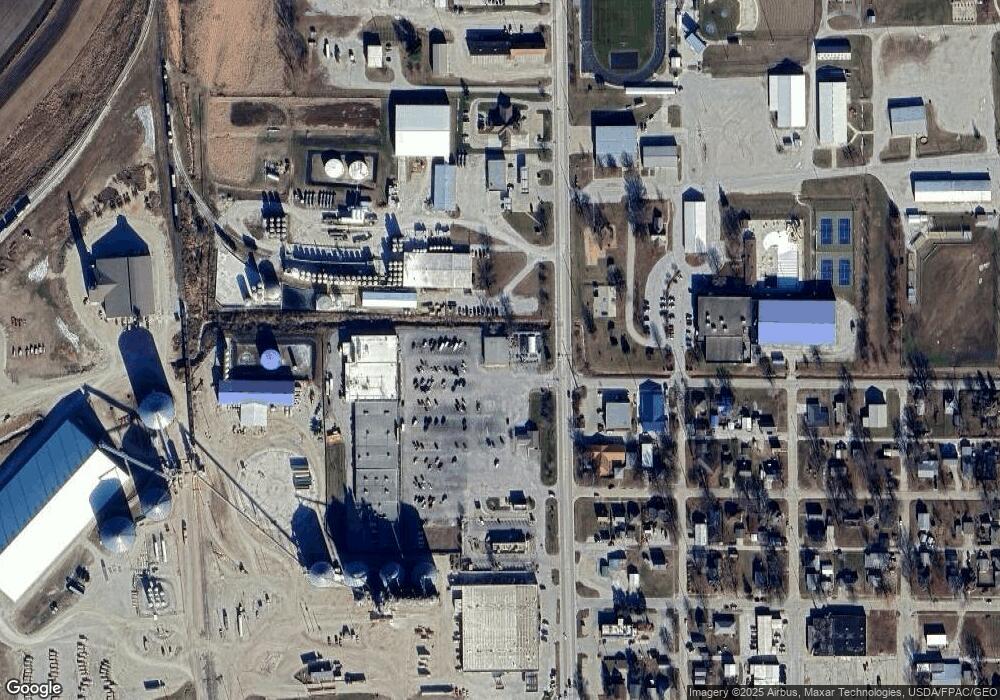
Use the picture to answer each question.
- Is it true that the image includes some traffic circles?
No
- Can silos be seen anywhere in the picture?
Yes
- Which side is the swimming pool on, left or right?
right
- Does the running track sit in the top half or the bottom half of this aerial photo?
top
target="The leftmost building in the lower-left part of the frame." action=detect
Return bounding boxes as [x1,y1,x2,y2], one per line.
[0,418,130,602]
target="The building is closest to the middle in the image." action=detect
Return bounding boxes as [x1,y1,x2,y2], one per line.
[484,338,509,366]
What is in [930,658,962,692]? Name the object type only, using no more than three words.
building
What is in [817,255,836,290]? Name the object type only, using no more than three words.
tennis court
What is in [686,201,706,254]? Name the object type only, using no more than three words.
barn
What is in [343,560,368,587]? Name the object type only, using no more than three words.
silo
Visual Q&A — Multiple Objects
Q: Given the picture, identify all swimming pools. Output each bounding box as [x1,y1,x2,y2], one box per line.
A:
[748,220,803,286]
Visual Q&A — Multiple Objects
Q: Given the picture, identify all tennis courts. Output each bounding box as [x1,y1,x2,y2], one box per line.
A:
[836,255,854,290]
[817,255,836,290]
[836,214,854,249]
[817,214,836,249]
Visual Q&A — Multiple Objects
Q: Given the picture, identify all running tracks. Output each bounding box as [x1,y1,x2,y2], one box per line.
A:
[580,0,668,84]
